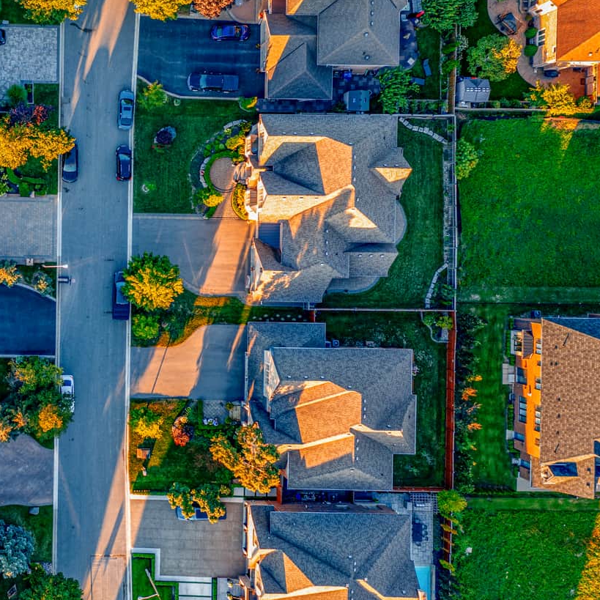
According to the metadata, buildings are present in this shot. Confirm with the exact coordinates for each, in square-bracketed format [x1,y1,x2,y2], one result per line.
[243,499,429,600]
[259,0,409,102]
[341,89,372,112]
[246,113,412,303]
[451,79,495,102]
[244,322,417,490]
[508,318,600,500]
[519,0,600,109]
